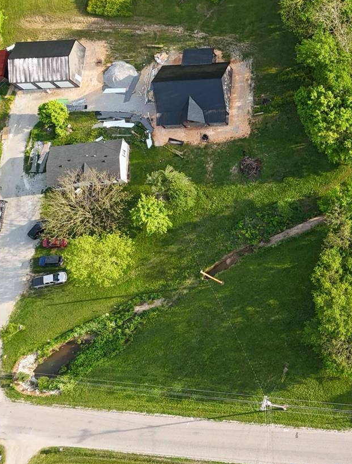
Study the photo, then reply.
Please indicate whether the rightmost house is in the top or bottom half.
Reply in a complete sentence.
The rightmost house sits in the top half of the picture.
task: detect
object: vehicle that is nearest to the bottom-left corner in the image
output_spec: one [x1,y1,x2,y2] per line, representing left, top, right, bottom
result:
[32,273,68,287]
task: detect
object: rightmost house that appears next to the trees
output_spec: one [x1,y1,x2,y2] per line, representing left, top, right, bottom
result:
[150,48,232,133]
